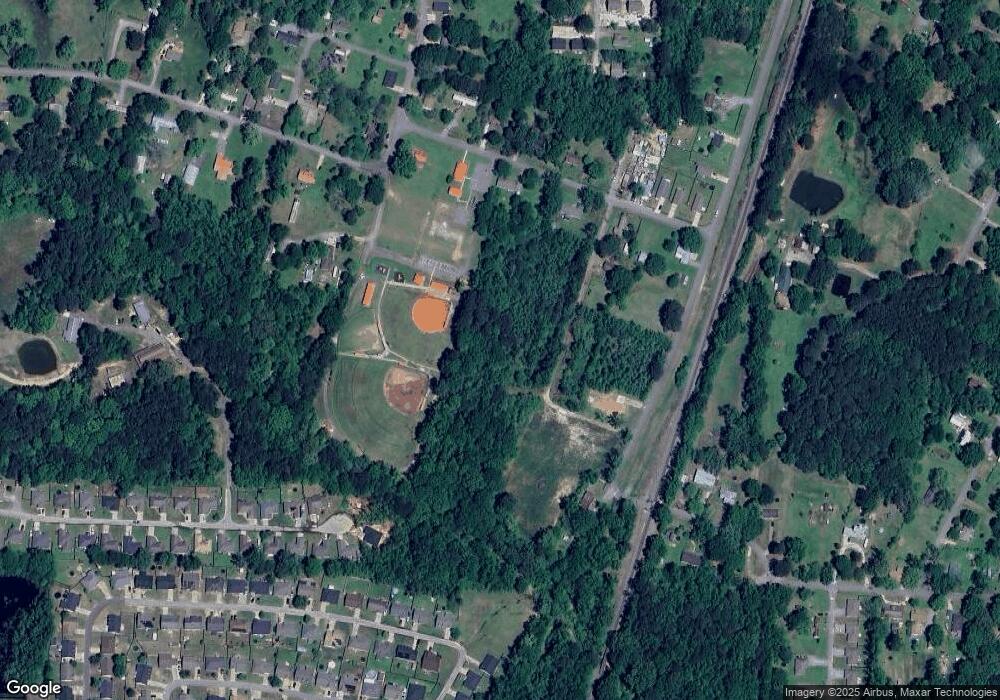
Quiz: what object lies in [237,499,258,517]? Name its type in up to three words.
house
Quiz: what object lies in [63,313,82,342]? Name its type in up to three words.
barn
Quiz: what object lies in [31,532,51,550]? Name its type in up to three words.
house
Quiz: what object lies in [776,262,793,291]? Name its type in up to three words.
barn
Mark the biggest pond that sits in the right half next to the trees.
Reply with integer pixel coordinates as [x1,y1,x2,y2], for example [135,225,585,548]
[791,170,843,213]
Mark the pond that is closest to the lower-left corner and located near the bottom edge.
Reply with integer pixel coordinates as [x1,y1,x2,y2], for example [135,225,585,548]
[0,576,38,674]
